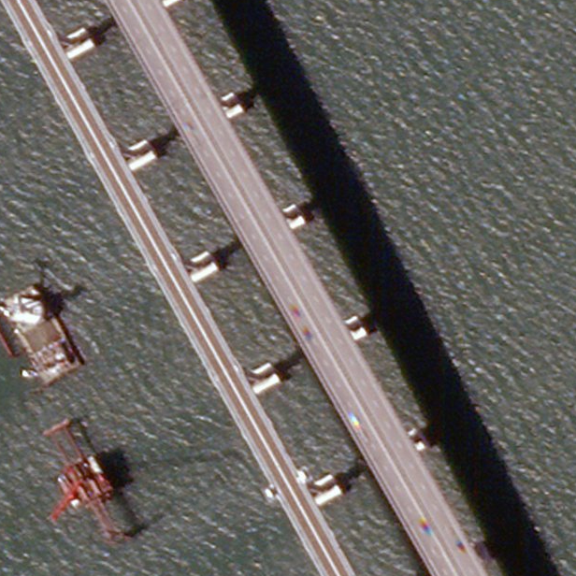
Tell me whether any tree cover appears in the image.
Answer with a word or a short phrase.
No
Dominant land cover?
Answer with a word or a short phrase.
water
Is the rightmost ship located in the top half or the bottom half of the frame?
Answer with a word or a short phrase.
bottom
